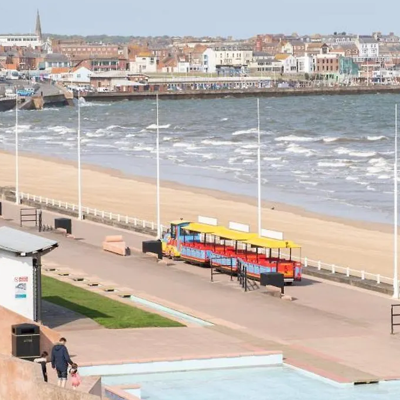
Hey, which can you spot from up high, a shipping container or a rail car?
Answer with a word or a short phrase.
rail car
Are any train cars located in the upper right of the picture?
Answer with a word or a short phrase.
No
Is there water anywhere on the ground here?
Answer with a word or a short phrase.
Yes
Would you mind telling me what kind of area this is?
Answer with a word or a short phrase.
residential area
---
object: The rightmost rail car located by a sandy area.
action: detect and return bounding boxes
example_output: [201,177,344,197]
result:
[242,229,309,286]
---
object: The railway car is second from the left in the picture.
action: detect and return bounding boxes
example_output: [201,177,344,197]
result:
[210,223,268,277]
